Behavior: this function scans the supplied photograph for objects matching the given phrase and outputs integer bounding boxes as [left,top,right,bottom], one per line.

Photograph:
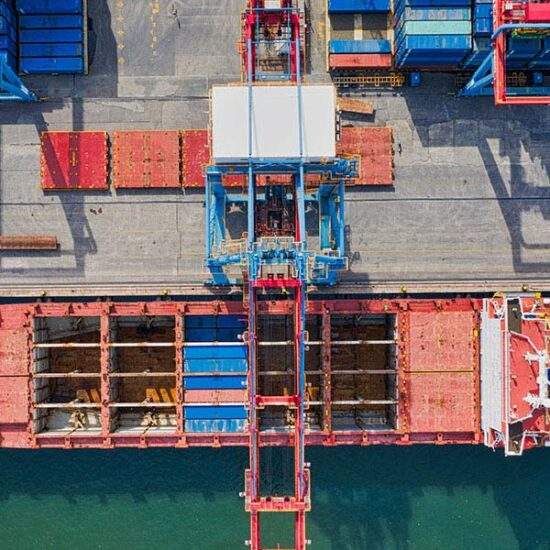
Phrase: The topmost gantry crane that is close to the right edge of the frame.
[457,0,550,103]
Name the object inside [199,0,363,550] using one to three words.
container crane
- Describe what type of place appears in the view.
port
